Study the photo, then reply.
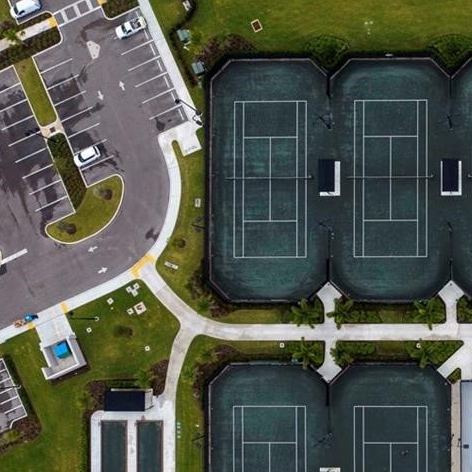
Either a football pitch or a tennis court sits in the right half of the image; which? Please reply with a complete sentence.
What appears in the right half of the image is a tennis court.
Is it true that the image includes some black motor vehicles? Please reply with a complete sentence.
No, the frame has no black motor vehicle in it.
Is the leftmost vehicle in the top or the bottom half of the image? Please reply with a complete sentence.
You can find the leftmost vehicle in the top half.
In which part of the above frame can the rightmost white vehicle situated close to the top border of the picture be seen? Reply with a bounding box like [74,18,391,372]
[114,16,148,39]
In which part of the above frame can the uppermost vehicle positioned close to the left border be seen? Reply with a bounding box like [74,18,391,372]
[10,0,43,20]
